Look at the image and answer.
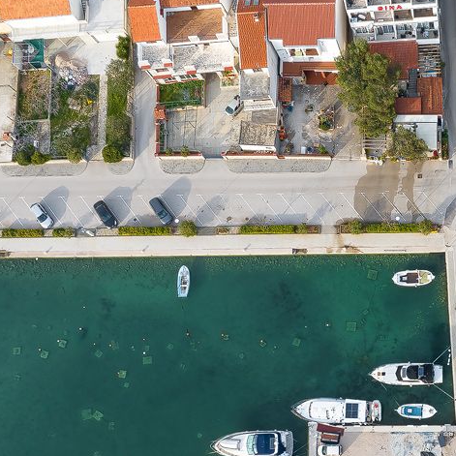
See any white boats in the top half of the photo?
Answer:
No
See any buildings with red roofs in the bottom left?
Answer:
No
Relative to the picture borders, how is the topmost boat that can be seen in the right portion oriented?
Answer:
from side to side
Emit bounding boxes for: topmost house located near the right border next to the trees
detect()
[340,0,442,84]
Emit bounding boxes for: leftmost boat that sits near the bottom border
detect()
[197,429,304,456]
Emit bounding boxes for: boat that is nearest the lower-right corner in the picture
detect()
[392,398,437,420]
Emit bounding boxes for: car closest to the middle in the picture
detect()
[146,195,176,227]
